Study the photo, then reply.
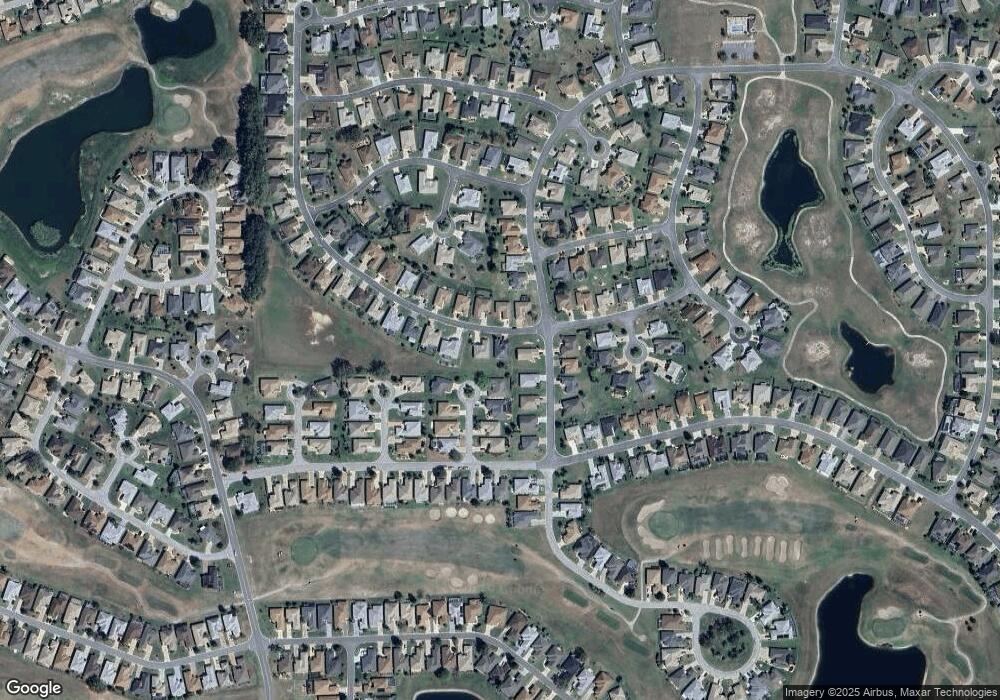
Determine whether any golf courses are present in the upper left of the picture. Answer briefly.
Yes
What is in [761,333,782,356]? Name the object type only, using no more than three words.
house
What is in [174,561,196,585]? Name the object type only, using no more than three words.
house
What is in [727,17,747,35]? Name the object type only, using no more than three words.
swimming pool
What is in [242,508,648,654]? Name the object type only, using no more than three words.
golf course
